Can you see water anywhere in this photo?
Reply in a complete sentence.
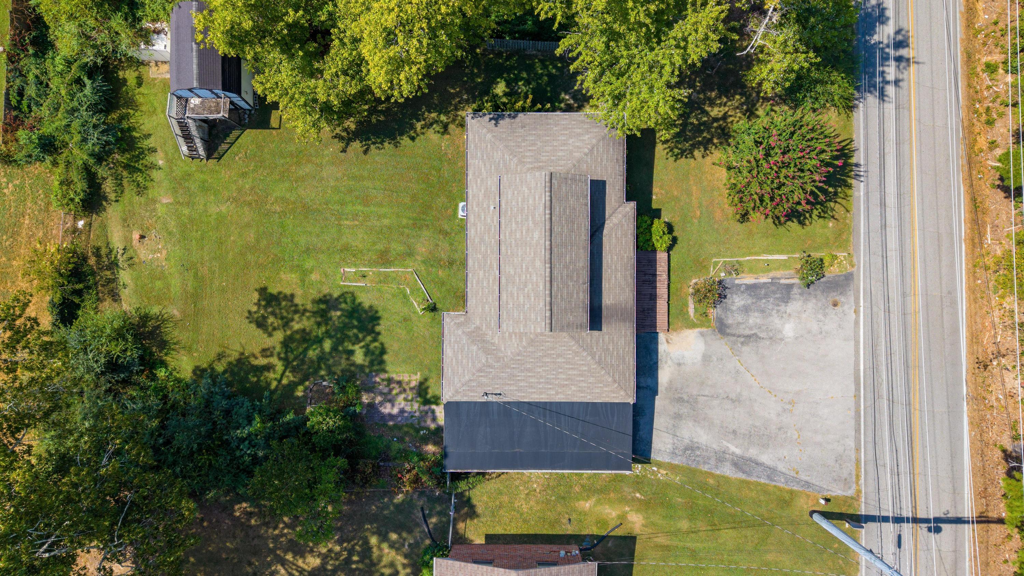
No, the scene doesn't show any water.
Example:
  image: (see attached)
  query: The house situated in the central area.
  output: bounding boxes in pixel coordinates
[441,112,637,473]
